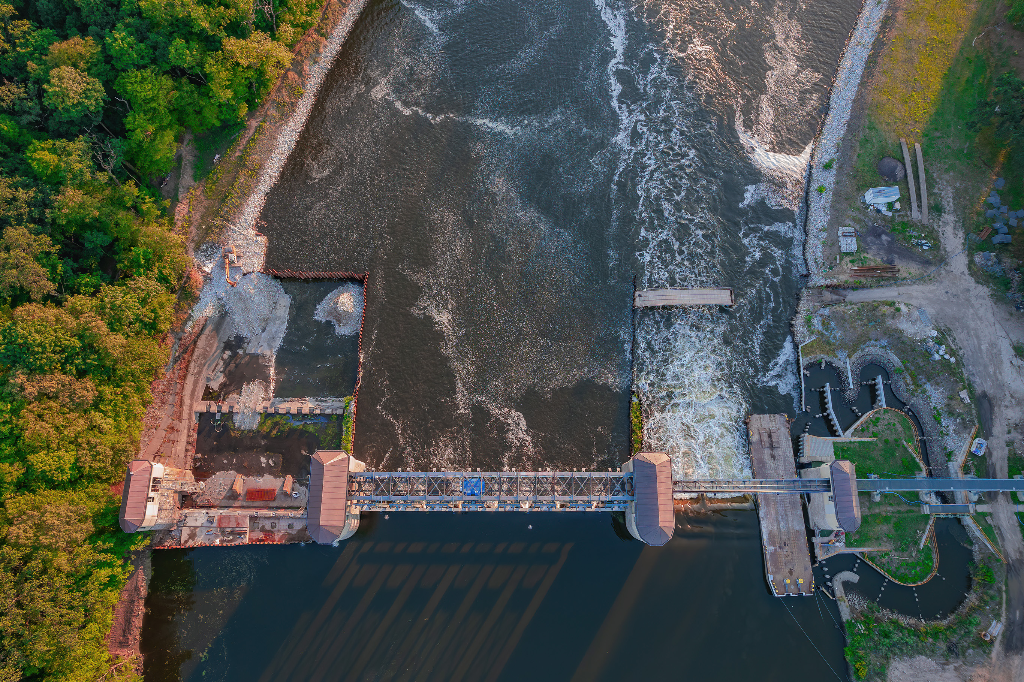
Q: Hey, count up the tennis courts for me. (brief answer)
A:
0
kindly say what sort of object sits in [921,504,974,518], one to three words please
bridge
